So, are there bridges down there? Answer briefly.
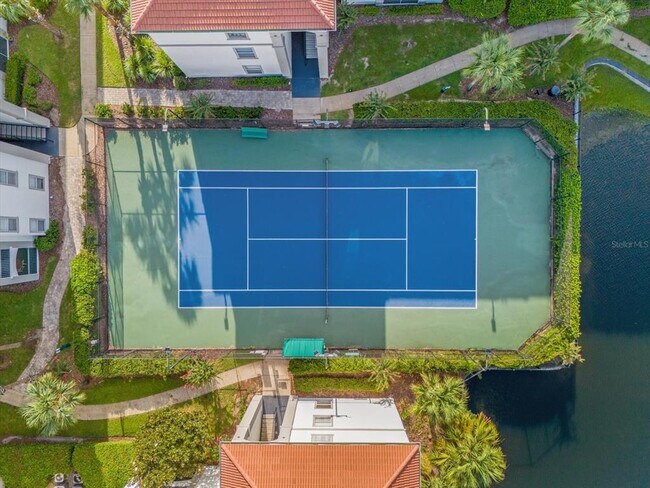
No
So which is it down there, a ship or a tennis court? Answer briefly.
tennis court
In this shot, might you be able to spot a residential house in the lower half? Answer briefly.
Yes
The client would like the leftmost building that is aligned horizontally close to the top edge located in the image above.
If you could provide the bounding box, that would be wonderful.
[130,0,341,97]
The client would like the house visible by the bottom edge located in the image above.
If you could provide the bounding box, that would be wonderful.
[218,395,422,488]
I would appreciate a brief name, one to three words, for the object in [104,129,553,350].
tennis court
